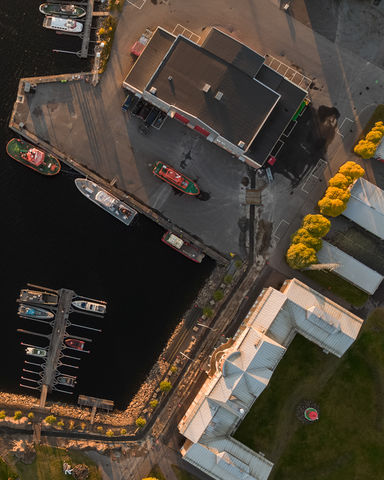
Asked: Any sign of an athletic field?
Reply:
No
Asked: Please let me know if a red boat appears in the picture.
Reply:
Yes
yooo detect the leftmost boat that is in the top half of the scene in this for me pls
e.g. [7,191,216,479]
[6,140,61,176]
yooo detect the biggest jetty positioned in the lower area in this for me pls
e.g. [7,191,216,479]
[17,284,107,394]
